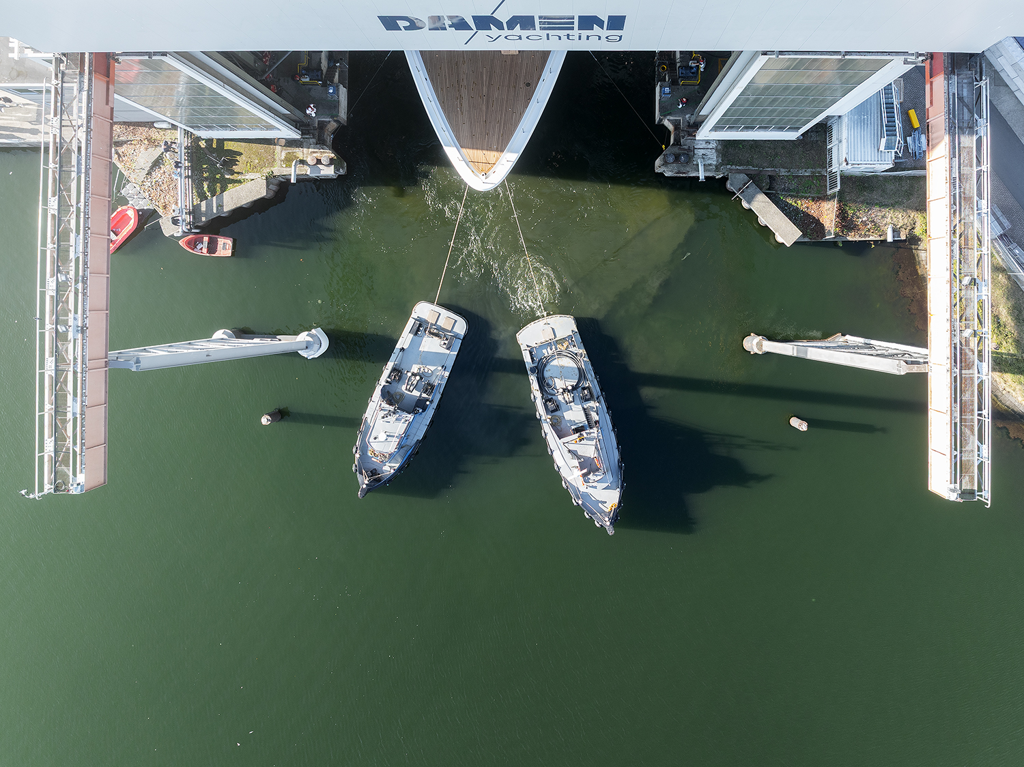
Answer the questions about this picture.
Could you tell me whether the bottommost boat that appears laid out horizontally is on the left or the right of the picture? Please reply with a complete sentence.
The bottommost boat that appears laid out horizontally appears in the left half of the scene.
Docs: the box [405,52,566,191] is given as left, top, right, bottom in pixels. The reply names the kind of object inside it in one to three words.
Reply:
boat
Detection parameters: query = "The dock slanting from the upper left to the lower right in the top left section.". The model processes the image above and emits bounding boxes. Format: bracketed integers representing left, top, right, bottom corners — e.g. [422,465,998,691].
[118,180,156,219]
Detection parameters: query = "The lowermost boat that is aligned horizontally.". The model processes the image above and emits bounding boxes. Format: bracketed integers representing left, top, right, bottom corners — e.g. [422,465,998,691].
[180,234,233,256]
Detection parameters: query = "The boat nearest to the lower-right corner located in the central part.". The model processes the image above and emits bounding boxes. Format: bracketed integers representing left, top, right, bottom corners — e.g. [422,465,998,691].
[515,313,626,537]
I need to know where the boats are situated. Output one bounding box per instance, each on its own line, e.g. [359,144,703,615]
[180,234,233,256]
[114,206,140,252]
[351,299,470,500]
[405,52,566,191]
[515,313,626,537]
